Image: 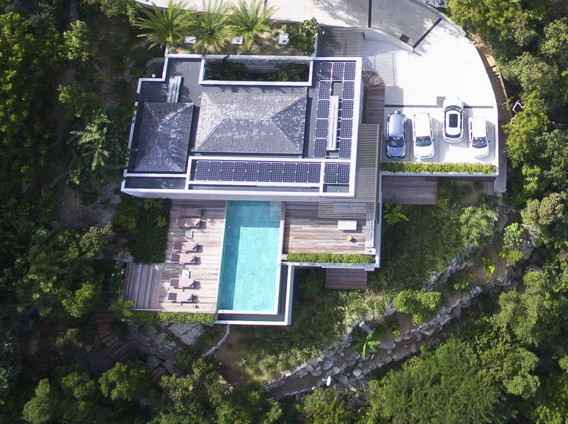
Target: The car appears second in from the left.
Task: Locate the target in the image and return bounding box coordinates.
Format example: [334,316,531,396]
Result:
[411,112,435,159]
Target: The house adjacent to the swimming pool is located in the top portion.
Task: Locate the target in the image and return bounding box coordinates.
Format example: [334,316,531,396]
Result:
[121,56,366,201]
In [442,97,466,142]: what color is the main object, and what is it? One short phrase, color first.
white car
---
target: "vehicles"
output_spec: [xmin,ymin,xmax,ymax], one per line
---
[411,112,435,159]
[442,97,466,142]
[384,109,408,159]
[468,117,492,159]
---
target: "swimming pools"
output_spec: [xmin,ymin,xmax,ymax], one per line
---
[215,198,290,315]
